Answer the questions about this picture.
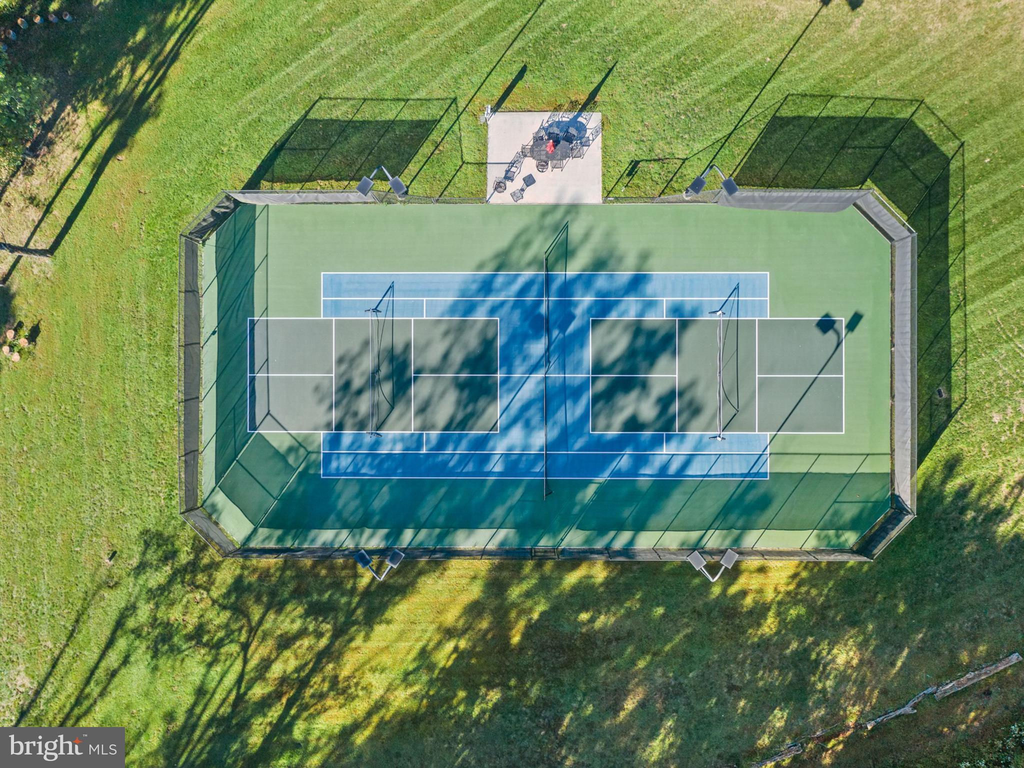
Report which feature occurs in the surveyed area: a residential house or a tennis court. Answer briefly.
tennis court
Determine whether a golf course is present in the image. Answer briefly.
No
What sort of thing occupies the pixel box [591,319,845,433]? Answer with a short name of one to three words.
sports court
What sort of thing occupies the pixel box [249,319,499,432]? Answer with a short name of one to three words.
sports court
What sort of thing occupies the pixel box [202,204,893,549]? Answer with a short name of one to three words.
tennis court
